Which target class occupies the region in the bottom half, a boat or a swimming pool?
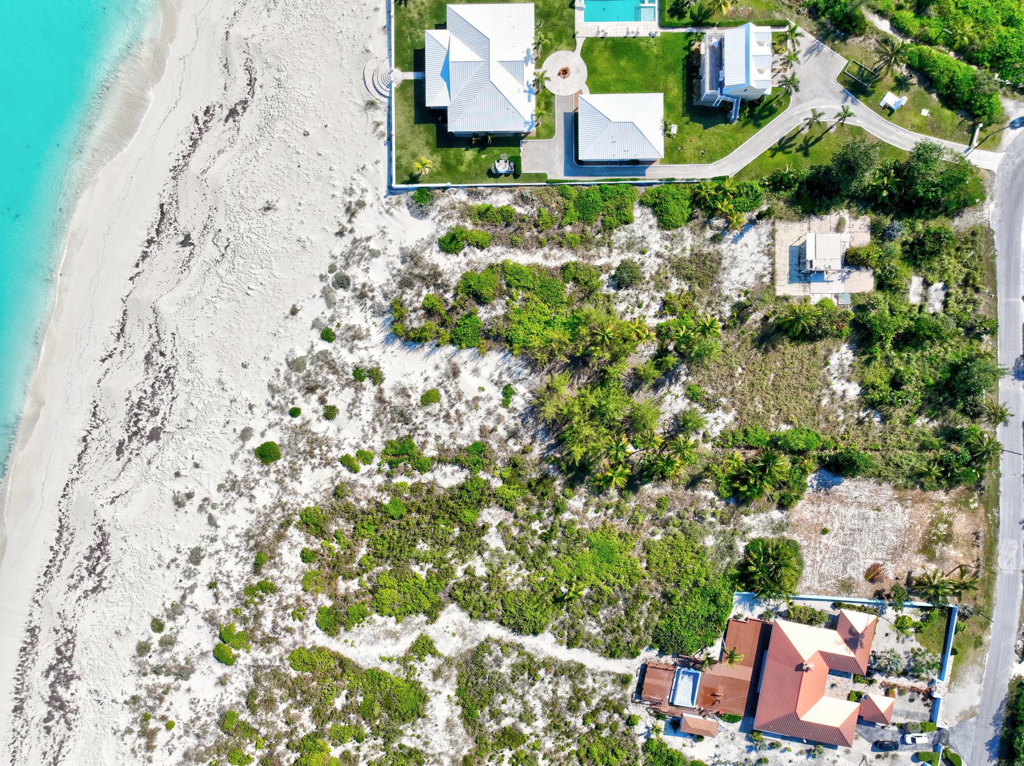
swimming pool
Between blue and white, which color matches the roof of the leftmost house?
white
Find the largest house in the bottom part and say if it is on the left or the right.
right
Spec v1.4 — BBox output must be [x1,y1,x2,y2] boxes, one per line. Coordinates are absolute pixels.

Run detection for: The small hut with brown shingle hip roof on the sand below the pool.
[680,713,718,738]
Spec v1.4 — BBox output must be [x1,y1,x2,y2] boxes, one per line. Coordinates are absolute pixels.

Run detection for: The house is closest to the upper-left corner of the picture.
[425,2,535,133]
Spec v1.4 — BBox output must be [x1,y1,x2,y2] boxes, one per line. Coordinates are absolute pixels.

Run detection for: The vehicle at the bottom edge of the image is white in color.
[906,734,930,748]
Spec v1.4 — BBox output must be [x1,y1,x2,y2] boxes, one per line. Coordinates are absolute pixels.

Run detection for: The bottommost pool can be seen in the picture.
[670,667,701,708]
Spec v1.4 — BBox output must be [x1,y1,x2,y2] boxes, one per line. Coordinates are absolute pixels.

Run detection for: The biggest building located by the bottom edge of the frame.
[753,609,878,748]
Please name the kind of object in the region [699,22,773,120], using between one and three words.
house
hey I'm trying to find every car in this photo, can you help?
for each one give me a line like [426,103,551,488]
[1012,115,1024,129]
[878,741,901,755]
[906,734,930,748]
